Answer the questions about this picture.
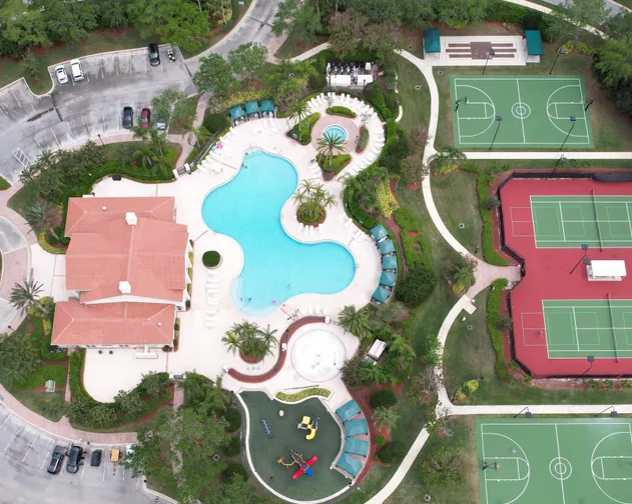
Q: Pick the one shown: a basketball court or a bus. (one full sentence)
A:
It is a basketball court that can be seen here.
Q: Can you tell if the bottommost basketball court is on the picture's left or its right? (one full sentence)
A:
The bottommost basketball court sits on the right side.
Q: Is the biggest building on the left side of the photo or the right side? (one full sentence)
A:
The biggest building appears in the left half of the scene.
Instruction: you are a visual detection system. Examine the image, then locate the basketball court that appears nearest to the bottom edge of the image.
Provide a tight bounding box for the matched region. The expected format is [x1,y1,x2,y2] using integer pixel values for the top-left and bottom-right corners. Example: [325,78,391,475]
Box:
[476,418,632,504]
